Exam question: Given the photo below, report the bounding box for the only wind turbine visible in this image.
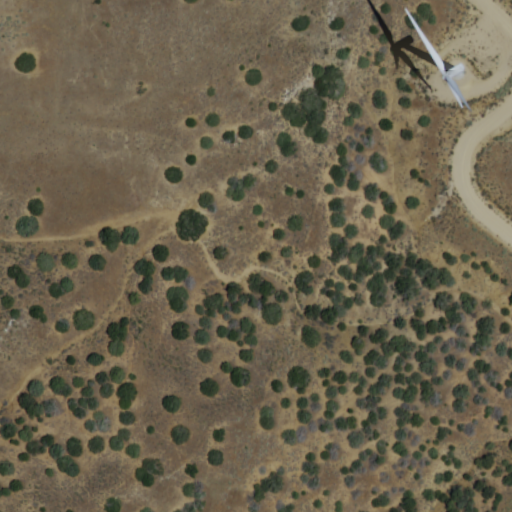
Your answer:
[404,9,468,110]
